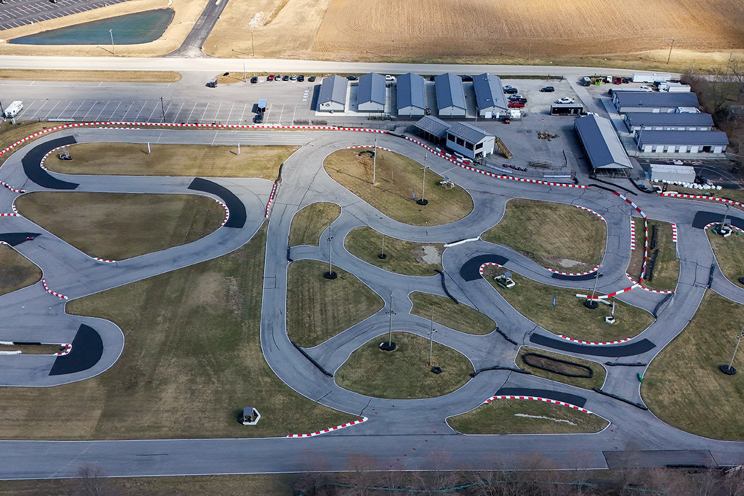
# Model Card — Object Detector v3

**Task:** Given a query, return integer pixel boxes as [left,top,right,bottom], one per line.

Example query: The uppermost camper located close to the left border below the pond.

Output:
[3,100,24,117]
